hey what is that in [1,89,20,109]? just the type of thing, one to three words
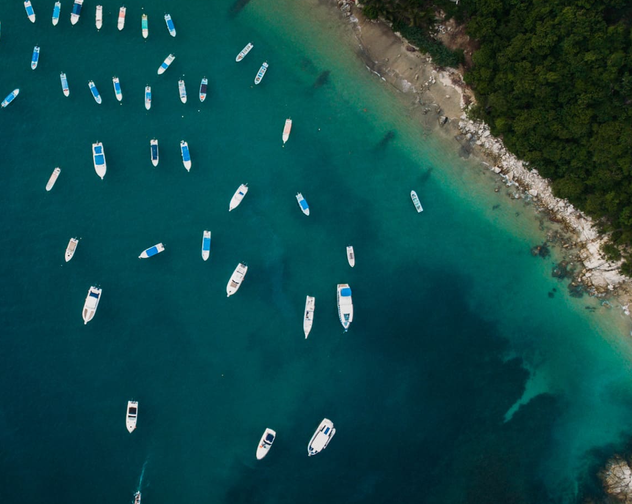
boat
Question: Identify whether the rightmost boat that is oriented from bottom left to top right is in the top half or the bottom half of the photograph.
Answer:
bottom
